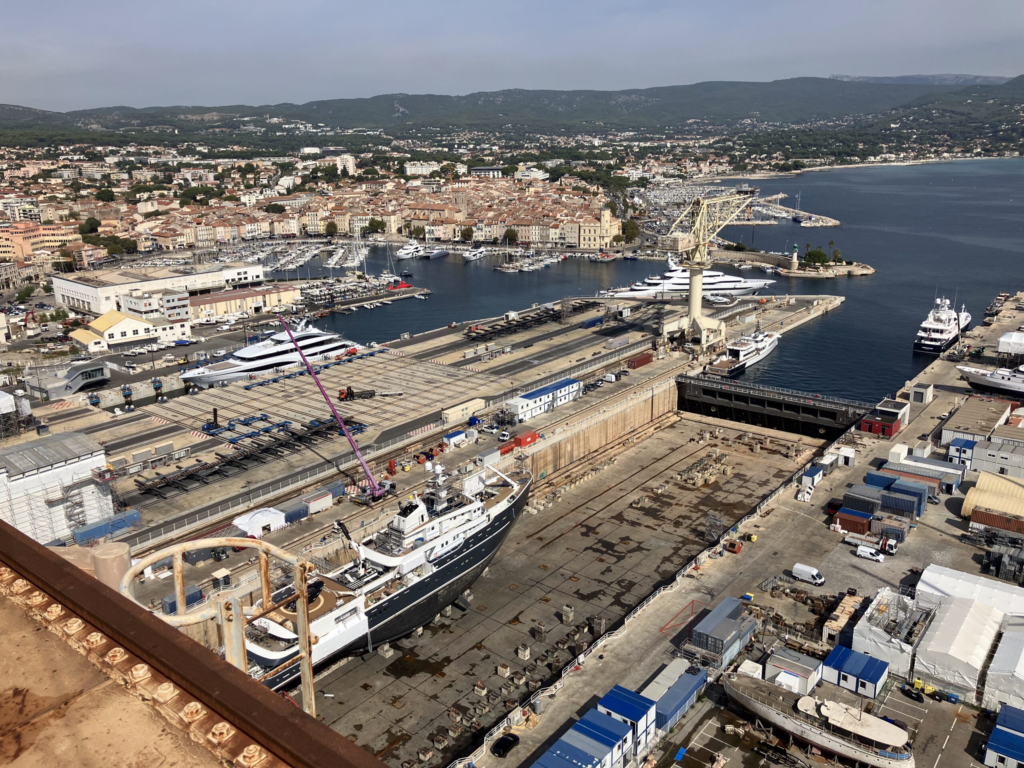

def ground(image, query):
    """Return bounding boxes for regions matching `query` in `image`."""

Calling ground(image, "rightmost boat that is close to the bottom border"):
[718,676,923,768]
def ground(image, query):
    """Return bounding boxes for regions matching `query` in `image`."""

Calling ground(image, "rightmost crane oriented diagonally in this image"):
[277,314,404,510]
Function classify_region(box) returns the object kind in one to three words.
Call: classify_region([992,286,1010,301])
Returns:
vessel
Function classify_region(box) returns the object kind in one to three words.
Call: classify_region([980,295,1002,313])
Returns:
vessel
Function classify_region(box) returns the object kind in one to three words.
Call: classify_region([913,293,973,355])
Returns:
boat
